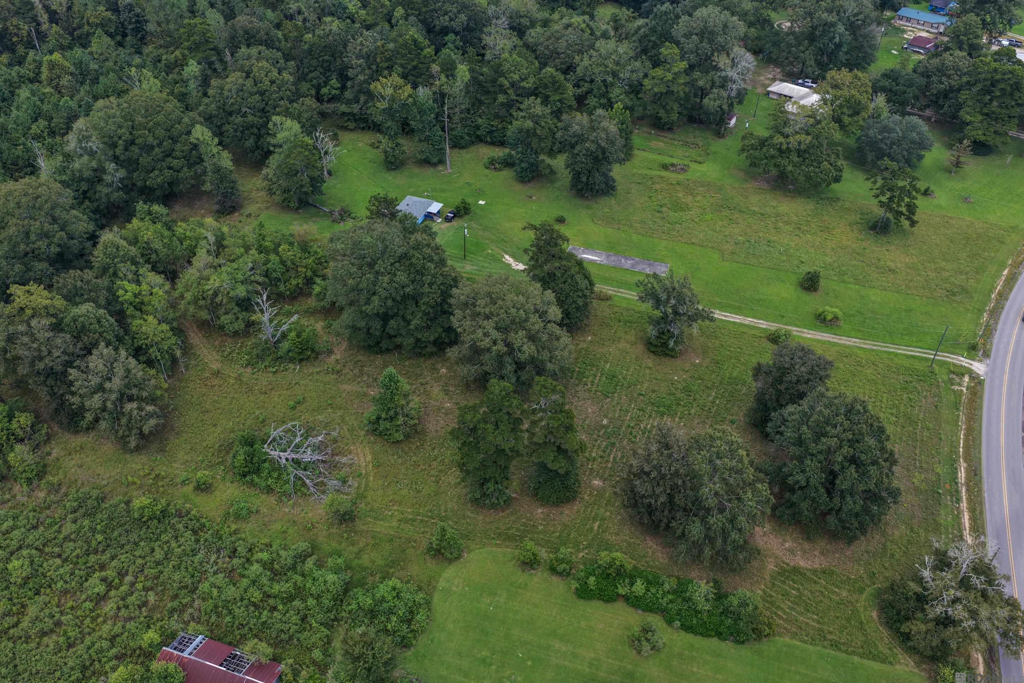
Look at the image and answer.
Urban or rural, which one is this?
rural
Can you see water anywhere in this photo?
No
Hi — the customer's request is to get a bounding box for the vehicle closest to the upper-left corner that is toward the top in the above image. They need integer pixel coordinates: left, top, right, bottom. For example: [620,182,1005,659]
[442,208,456,222]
